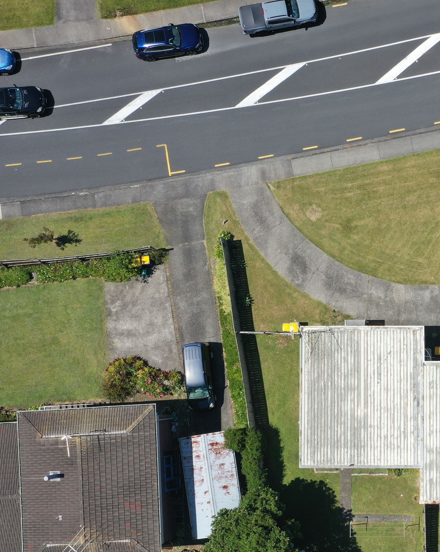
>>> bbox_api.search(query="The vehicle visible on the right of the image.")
[233,0,320,37]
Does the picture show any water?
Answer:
No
